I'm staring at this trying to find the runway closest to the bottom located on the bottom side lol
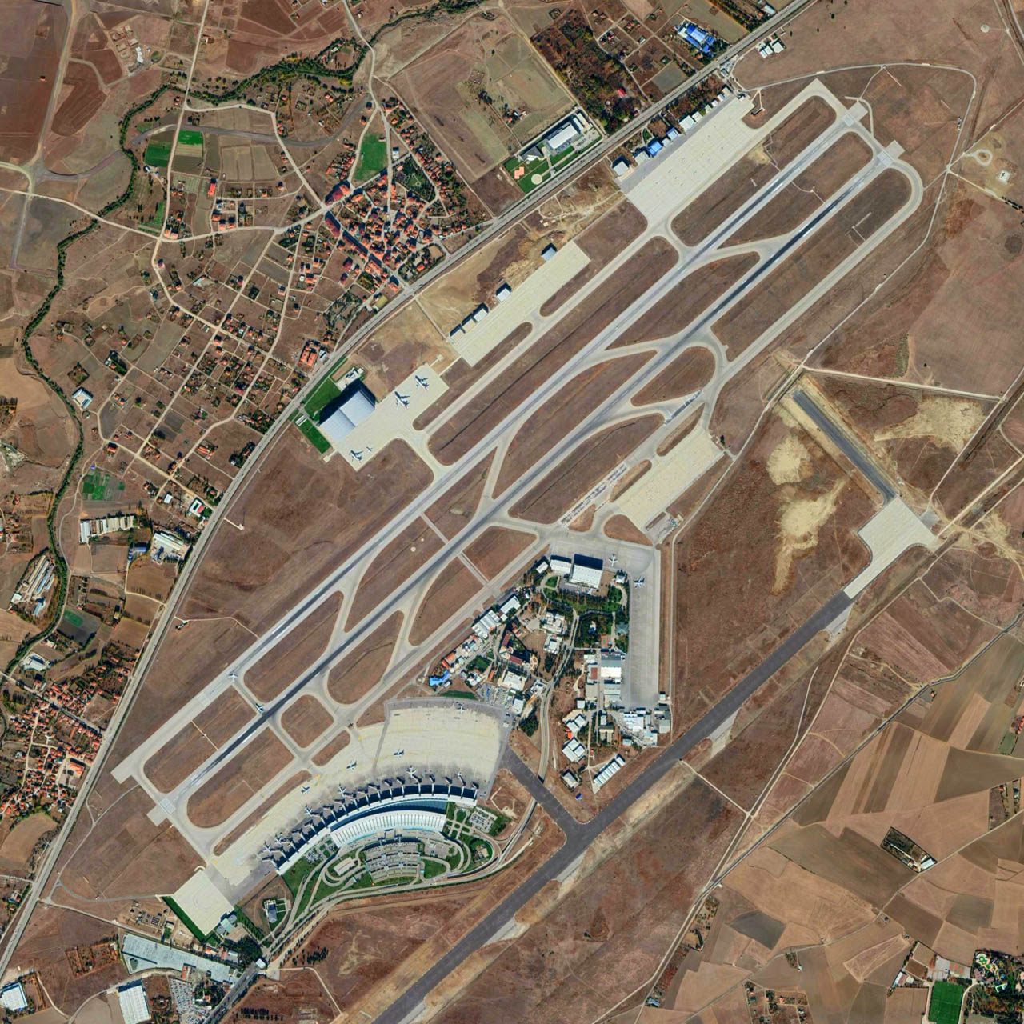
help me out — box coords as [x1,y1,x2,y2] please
[373,590,852,1024]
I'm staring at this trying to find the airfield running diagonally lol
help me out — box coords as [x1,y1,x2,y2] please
[112,79,938,1024]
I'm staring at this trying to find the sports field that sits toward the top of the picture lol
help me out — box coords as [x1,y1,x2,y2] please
[354,138,387,180]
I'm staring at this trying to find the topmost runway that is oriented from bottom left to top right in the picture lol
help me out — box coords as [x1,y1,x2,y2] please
[115,114,855,777]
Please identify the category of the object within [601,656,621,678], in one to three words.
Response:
hangar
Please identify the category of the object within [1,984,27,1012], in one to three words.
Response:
building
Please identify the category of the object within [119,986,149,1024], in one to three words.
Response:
building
